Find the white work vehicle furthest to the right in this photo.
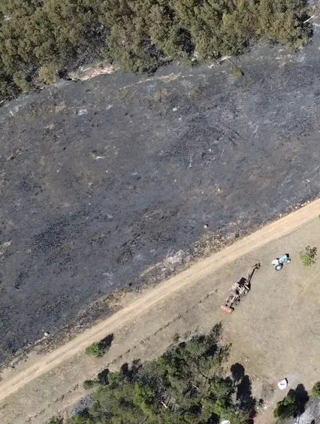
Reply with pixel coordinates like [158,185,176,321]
[270,253,291,269]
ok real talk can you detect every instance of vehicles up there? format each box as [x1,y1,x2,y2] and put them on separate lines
[223,265,259,312]
[270,253,291,269]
